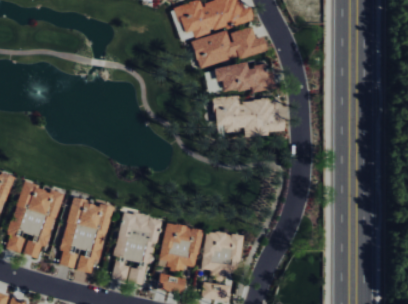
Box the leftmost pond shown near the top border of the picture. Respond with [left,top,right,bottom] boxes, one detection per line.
[0,0,114,67]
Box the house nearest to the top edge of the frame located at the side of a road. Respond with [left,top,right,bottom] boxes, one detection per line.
[174,0,254,38]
